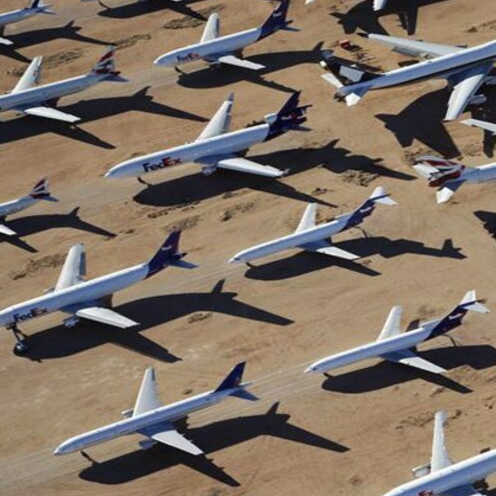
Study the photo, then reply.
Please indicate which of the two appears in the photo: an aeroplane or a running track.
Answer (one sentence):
The one in the frame is an aeroplane.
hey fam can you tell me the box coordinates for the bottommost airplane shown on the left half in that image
[56,361,261,456]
